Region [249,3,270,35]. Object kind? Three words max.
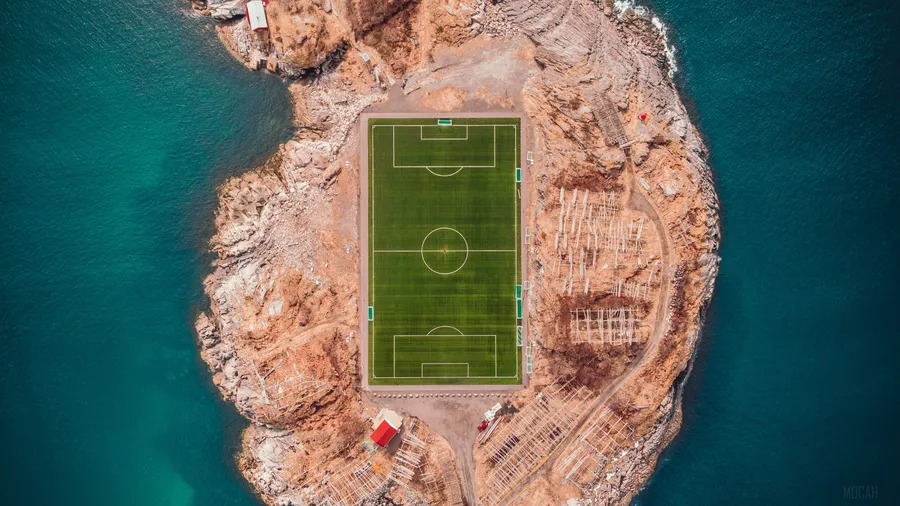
building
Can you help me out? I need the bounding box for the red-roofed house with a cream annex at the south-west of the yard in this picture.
[371,402,407,446]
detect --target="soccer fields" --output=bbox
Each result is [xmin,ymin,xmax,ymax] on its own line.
[367,119,522,385]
